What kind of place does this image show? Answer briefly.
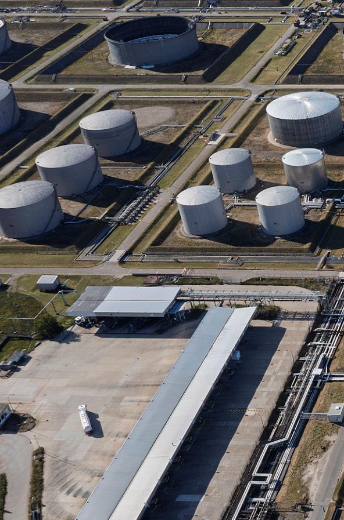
industrial area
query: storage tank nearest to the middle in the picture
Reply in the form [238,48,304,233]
[175,185,231,237]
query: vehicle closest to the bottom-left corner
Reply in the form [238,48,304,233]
[74,399,96,433]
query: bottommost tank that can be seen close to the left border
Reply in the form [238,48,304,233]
[0,181,67,241]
